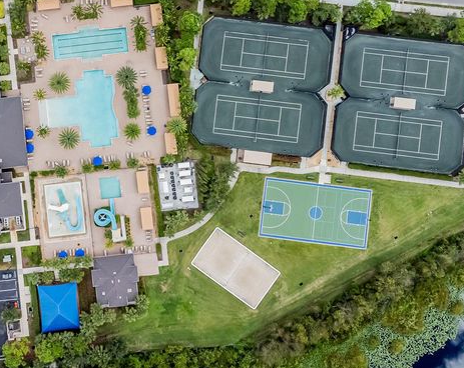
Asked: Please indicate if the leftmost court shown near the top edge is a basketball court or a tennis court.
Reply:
tennis court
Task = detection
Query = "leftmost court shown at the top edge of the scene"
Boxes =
[198,18,331,93]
